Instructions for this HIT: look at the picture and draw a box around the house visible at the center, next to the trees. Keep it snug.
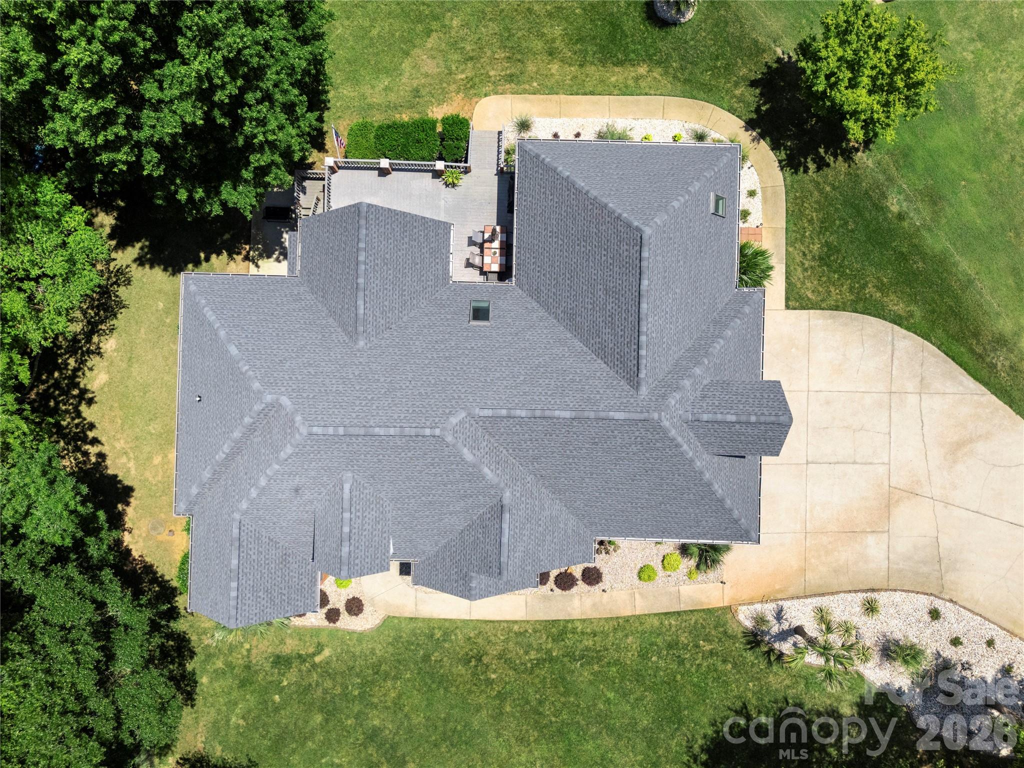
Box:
[176,141,792,629]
